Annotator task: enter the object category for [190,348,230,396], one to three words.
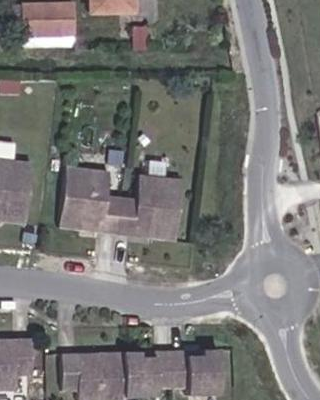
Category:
house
